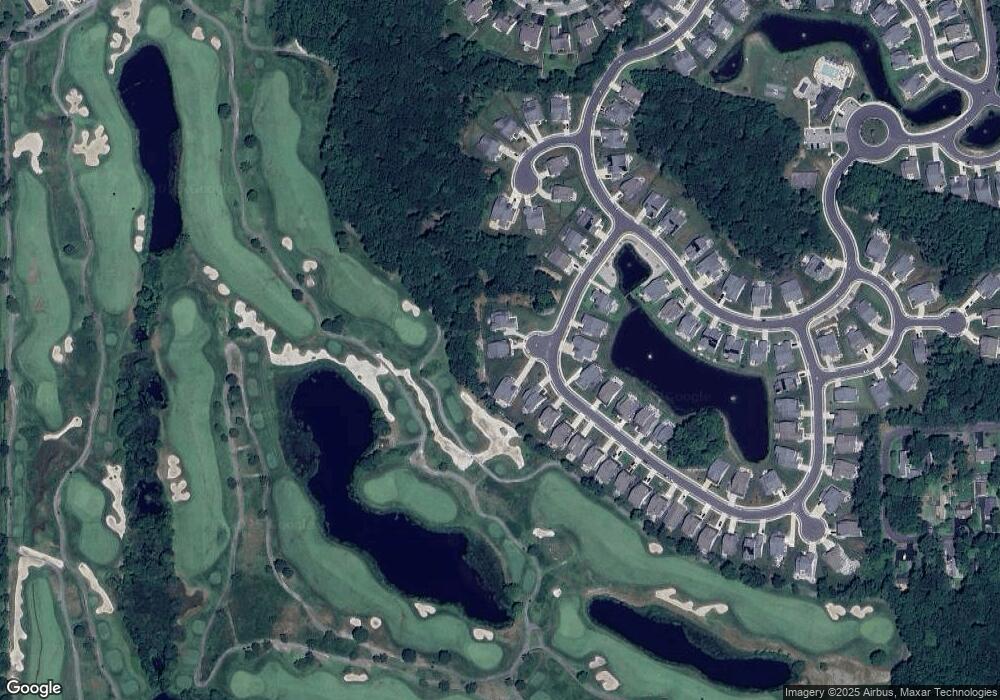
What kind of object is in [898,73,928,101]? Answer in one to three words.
house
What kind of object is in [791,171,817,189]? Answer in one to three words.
building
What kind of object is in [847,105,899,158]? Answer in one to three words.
roundabout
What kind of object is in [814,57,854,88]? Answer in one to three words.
swimming pool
